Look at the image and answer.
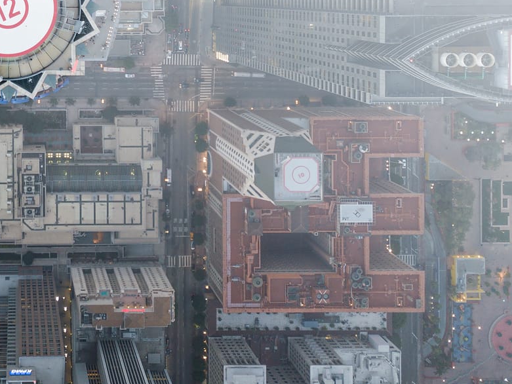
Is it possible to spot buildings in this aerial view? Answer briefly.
Yes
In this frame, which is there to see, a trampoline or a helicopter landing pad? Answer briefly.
helicopter landing pad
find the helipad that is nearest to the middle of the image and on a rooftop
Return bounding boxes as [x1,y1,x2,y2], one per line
[284,158,318,191]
